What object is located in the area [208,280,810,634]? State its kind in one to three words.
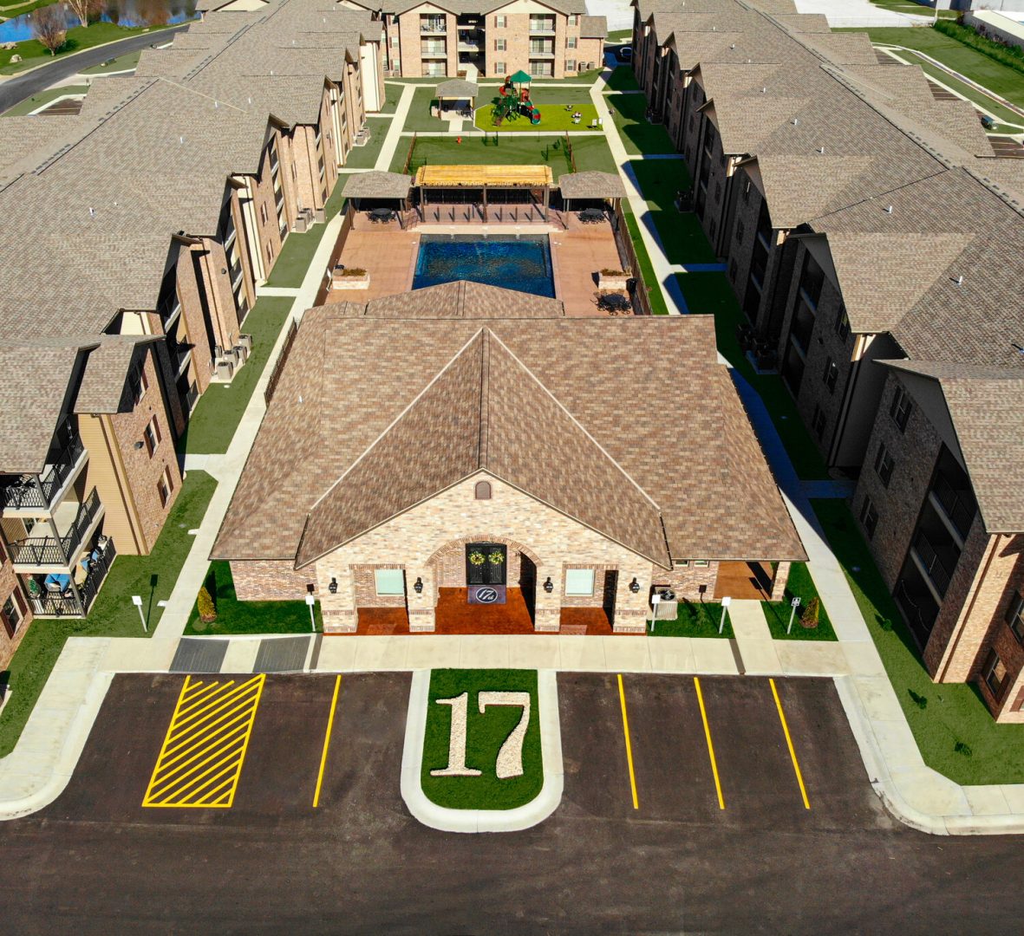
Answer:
building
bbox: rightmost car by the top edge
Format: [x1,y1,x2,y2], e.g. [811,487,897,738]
[616,39,631,52]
